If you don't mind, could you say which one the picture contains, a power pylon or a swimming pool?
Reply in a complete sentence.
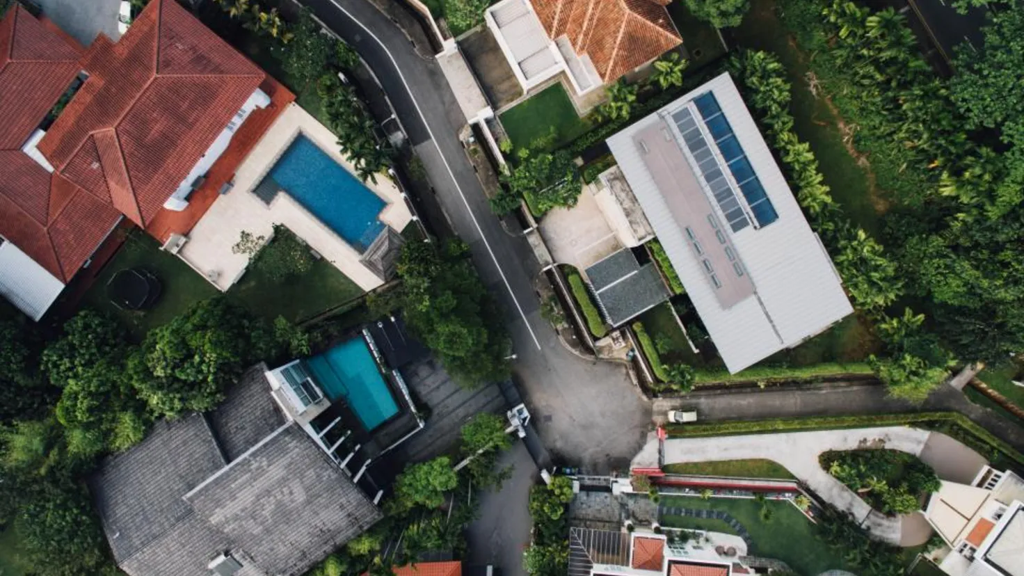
The image shows a swimming pool.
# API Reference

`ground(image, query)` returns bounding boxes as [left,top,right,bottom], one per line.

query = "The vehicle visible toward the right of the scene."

[667,409,696,423]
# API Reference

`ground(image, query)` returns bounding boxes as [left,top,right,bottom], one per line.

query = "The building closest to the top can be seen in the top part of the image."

[485,0,683,102]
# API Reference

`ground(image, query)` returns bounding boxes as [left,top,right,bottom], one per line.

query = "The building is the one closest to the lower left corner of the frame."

[91,358,388,576]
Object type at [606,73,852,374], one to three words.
house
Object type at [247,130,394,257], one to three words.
swimming pool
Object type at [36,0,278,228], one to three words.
house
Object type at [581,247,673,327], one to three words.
building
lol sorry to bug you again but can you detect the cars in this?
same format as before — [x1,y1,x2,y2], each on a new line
[117,0,134,33]
[667,409,696,423]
